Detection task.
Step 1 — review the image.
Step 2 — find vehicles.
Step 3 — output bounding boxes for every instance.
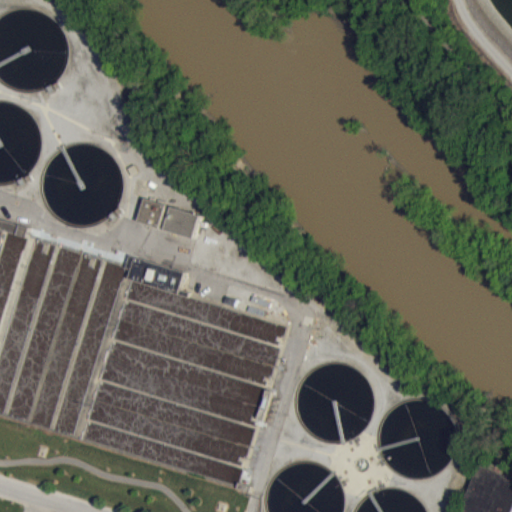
[1,206,10,218]
[222,296,241,306]
[18,218,29,224]
[196,282,201,292]
[200,286,211,297]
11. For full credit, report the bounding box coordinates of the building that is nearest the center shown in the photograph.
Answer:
[162,207,202,238]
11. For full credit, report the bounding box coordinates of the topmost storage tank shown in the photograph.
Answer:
[0,4,72,97]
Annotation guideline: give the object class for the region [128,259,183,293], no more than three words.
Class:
building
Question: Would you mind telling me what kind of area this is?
industrial area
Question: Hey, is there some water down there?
Yes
